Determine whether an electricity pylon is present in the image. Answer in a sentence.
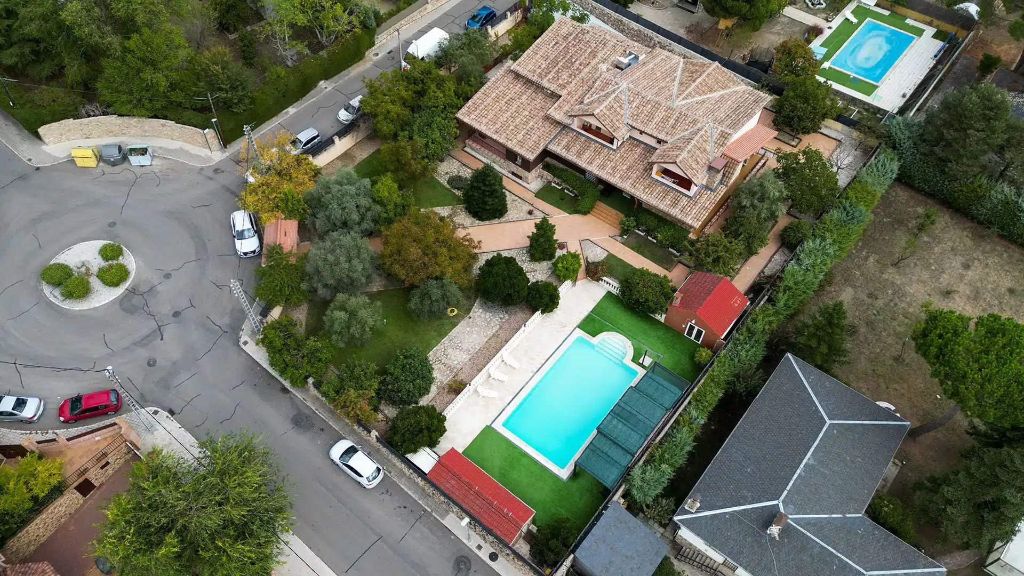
Yes, there's an electricity pylon down there.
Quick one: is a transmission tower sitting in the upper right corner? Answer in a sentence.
No, I can find no transmission tower in the upper right corner.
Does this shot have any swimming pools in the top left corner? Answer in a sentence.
No, in the top left corner there is no swimming pool.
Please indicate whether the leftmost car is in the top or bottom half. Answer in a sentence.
The bottom half of the photo is where the leftmost car is.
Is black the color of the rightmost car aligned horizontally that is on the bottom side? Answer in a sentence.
No, the rightmost car aligned horizontally that is on the bottom side is actually red.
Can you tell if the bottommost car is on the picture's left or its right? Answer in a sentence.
You can find the bottommost car on the left side of the picture.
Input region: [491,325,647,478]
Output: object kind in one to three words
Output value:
swimming pool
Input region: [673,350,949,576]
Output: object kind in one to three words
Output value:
house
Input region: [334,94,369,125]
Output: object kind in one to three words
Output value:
car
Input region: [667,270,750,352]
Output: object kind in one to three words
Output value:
shed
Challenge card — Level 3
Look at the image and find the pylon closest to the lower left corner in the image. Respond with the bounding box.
[94,366,157,434]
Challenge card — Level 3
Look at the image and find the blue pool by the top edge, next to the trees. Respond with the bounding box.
[827,13,919,86]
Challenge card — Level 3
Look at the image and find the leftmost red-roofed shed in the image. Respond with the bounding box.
[426,447,537,545]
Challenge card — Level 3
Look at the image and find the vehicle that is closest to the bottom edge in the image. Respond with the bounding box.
[326,440,388,491]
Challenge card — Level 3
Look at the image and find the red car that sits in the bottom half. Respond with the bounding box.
[59,389,122,422]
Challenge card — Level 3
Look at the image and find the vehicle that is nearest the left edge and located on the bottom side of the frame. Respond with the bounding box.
[0,389,47,424]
